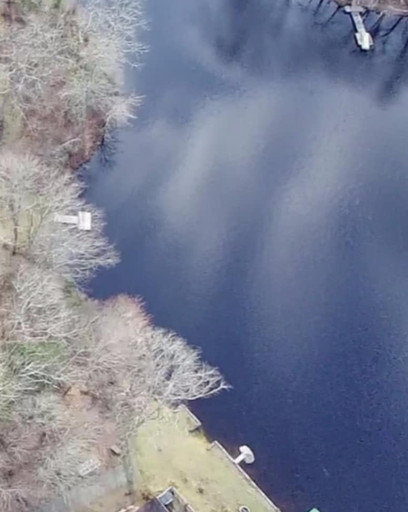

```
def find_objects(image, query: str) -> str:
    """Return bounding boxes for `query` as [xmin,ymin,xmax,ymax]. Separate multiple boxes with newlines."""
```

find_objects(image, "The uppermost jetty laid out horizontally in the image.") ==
[55,212,93,232]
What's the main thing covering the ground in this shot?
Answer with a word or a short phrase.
water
